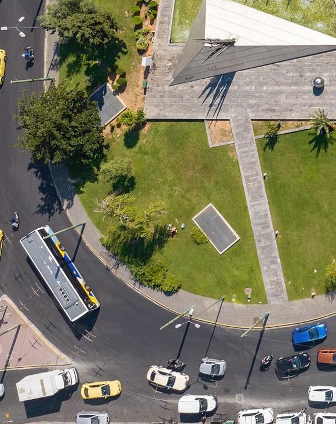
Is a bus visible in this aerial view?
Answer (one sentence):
Yes, there's a bus here.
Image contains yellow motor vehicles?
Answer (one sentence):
Yes, the picture does show a yellow motor vehicle.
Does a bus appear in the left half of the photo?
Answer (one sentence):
Yes, there is a bus in the left half of the photo.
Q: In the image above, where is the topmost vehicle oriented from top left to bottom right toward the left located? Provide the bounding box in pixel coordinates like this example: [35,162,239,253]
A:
[24,225,105,324]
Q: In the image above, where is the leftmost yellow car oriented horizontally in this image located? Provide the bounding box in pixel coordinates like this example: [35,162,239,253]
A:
[81,378,124,399]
